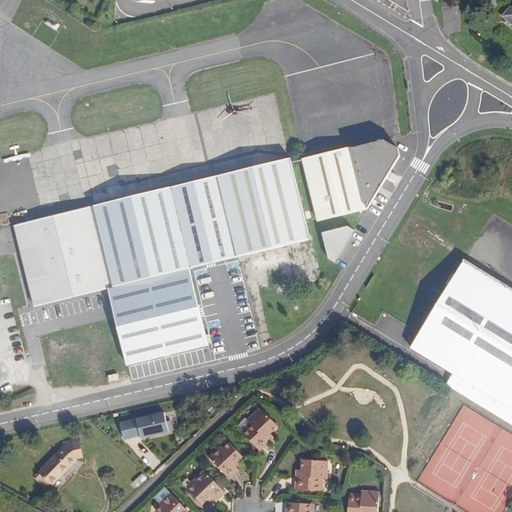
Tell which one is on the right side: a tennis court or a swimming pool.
tennis court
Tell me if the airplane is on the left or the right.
left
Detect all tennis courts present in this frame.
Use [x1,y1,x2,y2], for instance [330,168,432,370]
[458,429,512,512]
[418,406,502,504]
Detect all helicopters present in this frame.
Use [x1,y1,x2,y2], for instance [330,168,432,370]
[222,94,252,122]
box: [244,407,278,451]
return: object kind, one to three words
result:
house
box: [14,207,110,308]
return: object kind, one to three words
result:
hangar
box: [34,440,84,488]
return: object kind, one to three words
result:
house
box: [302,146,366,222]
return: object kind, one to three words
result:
building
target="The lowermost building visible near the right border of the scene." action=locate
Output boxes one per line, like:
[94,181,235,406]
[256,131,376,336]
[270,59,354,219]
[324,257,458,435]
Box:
[410,259,512,421]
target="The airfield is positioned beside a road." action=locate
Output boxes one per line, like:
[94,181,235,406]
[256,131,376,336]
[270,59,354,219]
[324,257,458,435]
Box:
[0,0,398,258]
